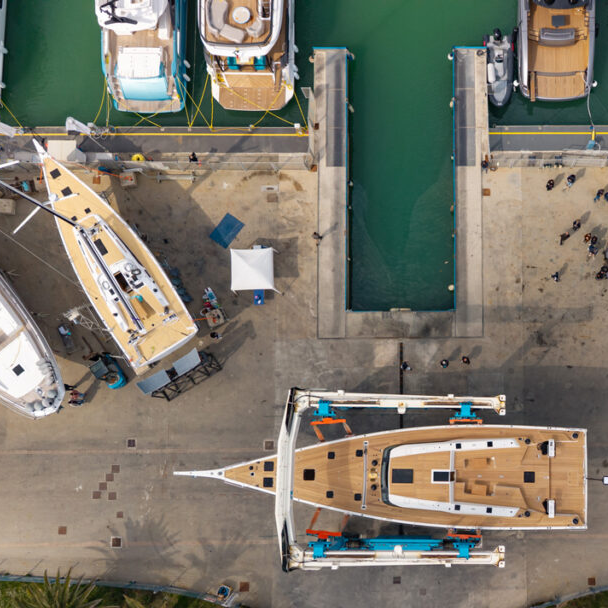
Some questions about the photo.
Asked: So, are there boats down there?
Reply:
Yes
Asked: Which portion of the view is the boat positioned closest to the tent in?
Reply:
left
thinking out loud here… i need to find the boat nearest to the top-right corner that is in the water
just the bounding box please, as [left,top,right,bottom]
[517,0,596,102]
